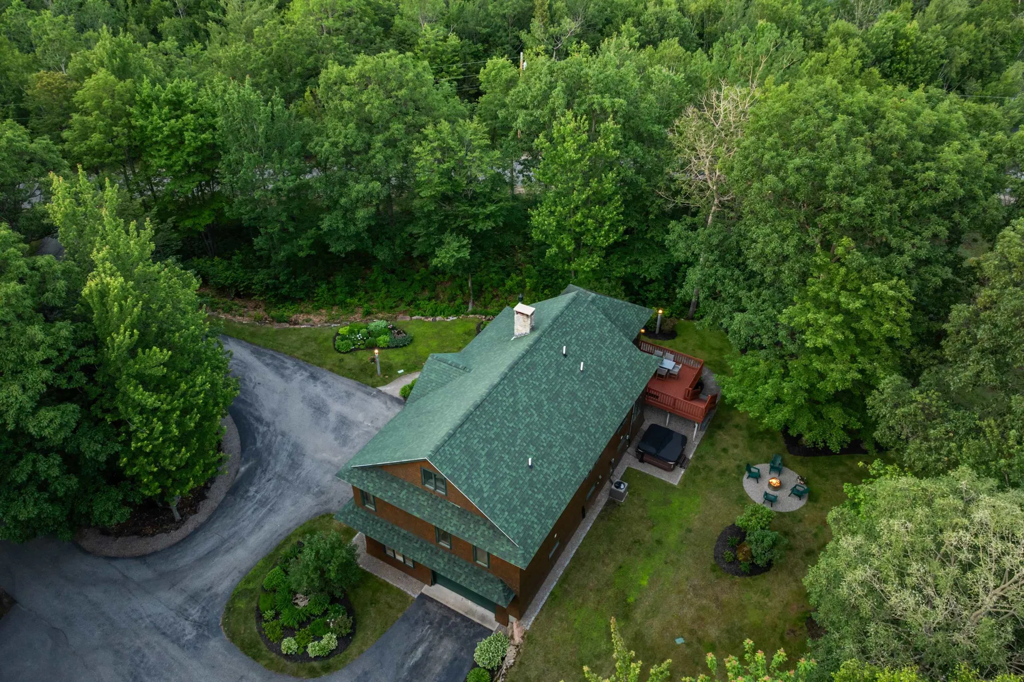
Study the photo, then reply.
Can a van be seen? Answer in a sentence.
No, there's no van here.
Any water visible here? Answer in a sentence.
No, water can't be seen anywhere here.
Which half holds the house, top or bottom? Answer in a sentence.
The house sits in the bottom half of the picture.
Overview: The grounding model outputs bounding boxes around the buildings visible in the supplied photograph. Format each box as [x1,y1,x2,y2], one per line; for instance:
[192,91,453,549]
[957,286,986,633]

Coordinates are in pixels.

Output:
[333,283,660,626]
